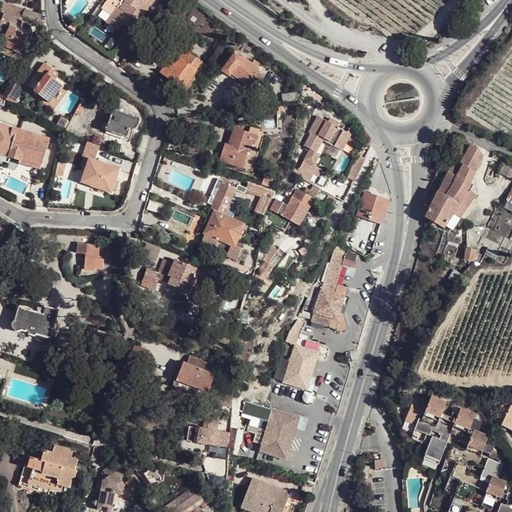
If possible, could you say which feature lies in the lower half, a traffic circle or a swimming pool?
swimming pool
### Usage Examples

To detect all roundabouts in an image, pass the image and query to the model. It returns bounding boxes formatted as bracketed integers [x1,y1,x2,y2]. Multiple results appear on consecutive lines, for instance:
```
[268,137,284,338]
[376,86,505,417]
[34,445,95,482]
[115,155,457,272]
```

[363,62,442,140]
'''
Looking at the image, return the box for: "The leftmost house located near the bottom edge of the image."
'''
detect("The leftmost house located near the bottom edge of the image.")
[26,444,77,492]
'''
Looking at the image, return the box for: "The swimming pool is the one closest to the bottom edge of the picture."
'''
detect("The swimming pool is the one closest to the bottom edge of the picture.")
[407,478,422,508]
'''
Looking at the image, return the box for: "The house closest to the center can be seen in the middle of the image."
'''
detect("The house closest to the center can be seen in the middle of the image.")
[258,244,282,280]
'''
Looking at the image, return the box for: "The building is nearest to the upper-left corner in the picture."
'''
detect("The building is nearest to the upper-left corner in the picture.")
[2,2,42,48]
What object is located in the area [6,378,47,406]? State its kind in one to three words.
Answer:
swimming pool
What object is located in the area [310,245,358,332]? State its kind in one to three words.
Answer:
building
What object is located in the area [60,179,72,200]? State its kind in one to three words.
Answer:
swimming pool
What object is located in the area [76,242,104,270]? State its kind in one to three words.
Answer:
house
